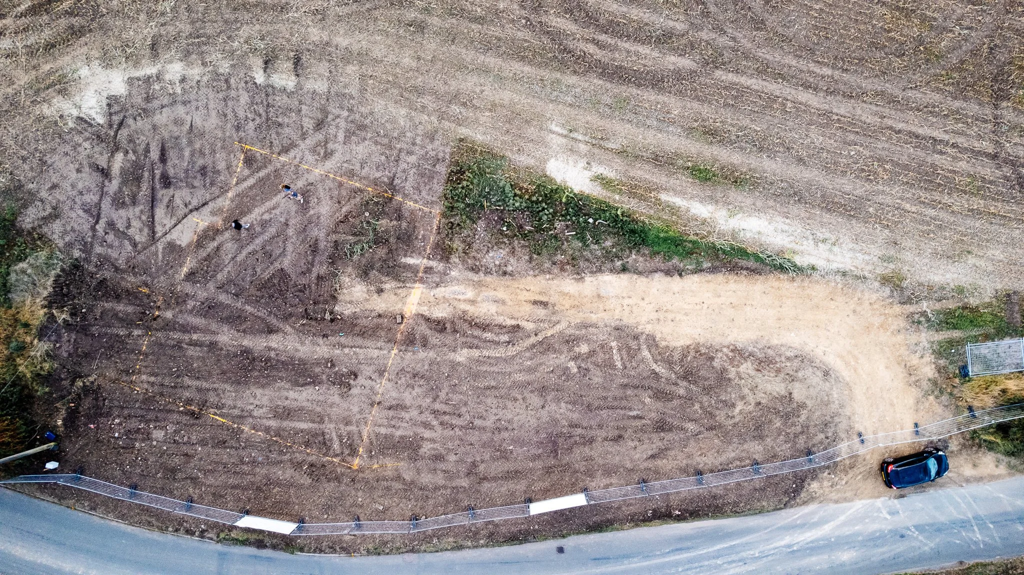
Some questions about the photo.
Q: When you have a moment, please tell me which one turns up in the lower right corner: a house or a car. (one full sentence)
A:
You can see a car in the lower right corner.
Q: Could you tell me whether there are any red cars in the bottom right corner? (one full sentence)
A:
No, no red car is visible in the bottom right corner.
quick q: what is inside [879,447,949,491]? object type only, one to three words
car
